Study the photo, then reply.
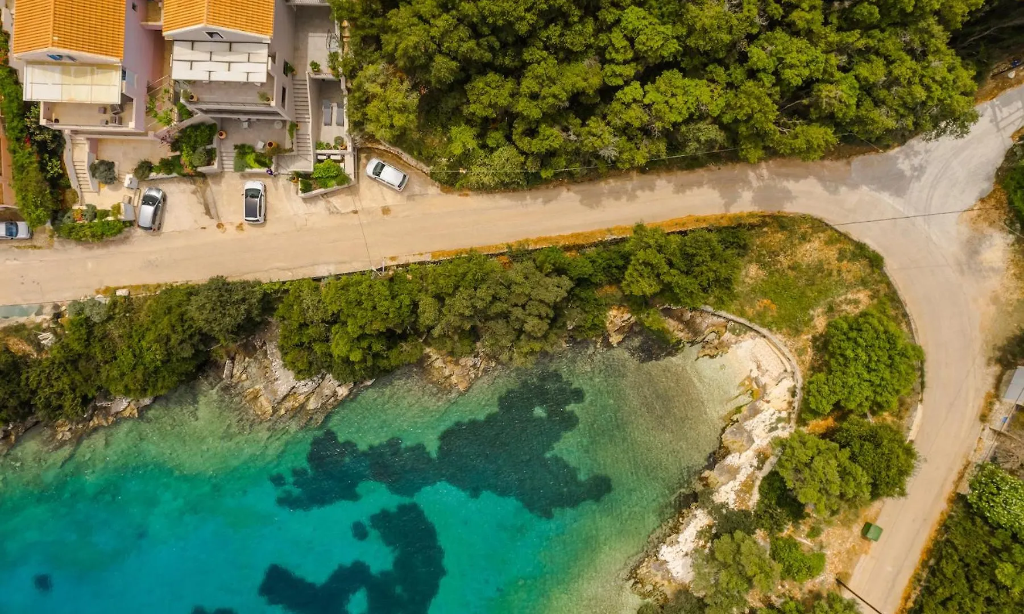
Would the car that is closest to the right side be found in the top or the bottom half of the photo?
top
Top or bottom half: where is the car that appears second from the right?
top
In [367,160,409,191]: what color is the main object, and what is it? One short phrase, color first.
white car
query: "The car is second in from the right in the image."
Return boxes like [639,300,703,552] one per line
[243,181,267,224]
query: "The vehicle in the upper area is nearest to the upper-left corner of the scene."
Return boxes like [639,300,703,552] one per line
[0,218,33,241]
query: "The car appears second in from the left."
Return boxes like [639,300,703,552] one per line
[138,188,166,231]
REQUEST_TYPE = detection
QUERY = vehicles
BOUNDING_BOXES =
[0,218,33,241]
[243,181,267,224]
[138,188,166,231]
[367,160,409,191]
